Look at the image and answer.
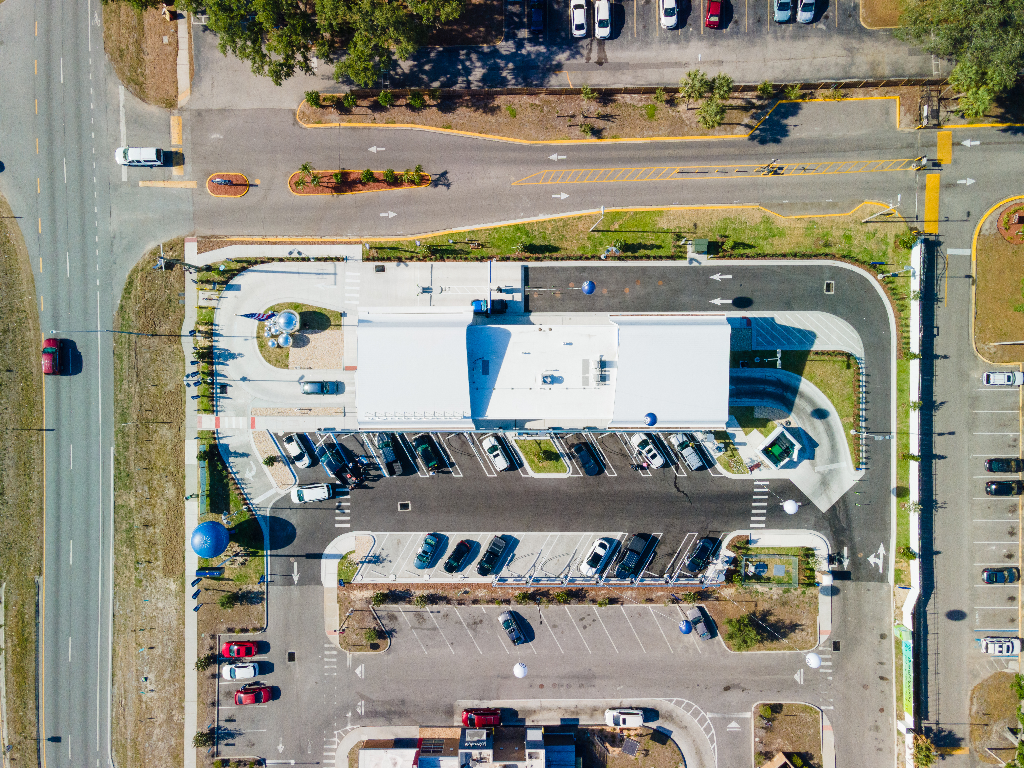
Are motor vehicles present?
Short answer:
Yes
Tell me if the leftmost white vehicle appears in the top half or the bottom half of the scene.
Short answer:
top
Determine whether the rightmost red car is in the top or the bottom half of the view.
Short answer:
top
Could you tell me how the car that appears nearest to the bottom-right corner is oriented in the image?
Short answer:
horizontally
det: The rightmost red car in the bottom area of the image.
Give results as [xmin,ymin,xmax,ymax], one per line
[462,708,501,730]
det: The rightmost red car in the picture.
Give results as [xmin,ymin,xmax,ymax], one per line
[704,0,724,29]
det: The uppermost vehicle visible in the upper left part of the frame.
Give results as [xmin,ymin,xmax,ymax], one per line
[115,146,165,167]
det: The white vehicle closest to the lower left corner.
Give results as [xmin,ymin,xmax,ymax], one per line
[223,661,260,681]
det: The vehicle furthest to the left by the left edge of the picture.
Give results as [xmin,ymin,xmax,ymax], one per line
[39,338,63,375]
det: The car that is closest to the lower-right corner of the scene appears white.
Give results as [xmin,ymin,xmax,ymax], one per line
[978,636,1022,657]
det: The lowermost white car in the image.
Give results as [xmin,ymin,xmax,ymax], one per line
[604,707,644,729]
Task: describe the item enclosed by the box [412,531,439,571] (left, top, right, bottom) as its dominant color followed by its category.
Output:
blue car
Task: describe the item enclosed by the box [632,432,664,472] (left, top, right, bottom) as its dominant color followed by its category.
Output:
white car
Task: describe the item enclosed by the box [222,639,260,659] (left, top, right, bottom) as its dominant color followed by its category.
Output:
red car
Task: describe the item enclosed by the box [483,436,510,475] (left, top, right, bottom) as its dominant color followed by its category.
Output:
white car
